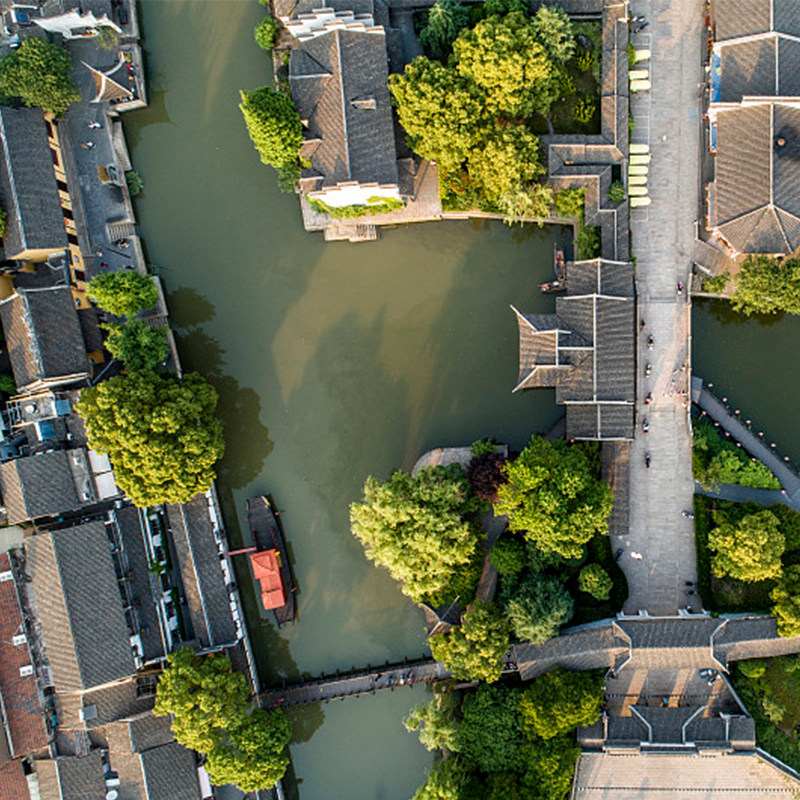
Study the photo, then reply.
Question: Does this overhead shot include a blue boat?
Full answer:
No, I can't see a single blue boat in this photo.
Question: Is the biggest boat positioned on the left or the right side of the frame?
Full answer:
You can find the biggest boat on the left side of the picture.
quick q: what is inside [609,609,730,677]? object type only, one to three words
building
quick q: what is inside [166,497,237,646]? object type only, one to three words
house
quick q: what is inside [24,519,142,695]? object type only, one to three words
house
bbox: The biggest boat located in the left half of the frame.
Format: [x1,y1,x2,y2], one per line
[247,495,297,628]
